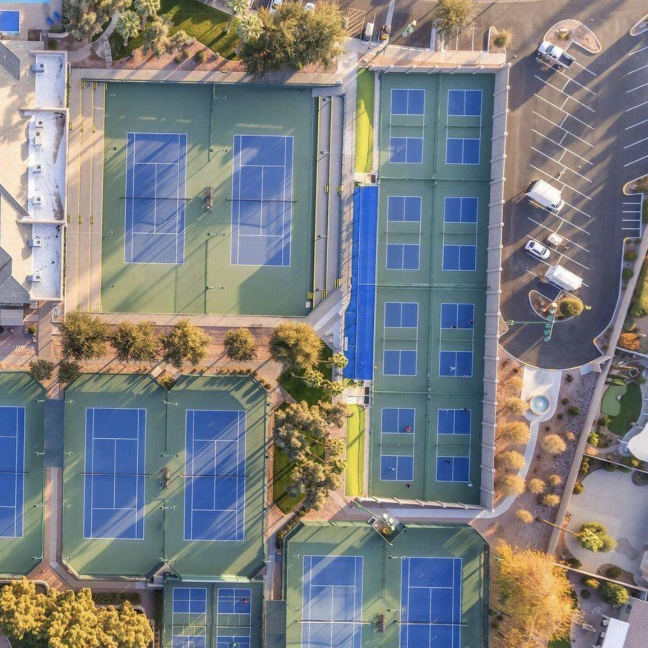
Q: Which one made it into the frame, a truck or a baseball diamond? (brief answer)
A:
truck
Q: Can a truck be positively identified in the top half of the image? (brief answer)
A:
Yes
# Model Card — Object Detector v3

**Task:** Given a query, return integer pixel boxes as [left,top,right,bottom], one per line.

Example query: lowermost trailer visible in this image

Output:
[538,264,586,291]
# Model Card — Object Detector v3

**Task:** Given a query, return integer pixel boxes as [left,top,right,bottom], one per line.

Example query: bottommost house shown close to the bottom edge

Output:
[615,597,648,648]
